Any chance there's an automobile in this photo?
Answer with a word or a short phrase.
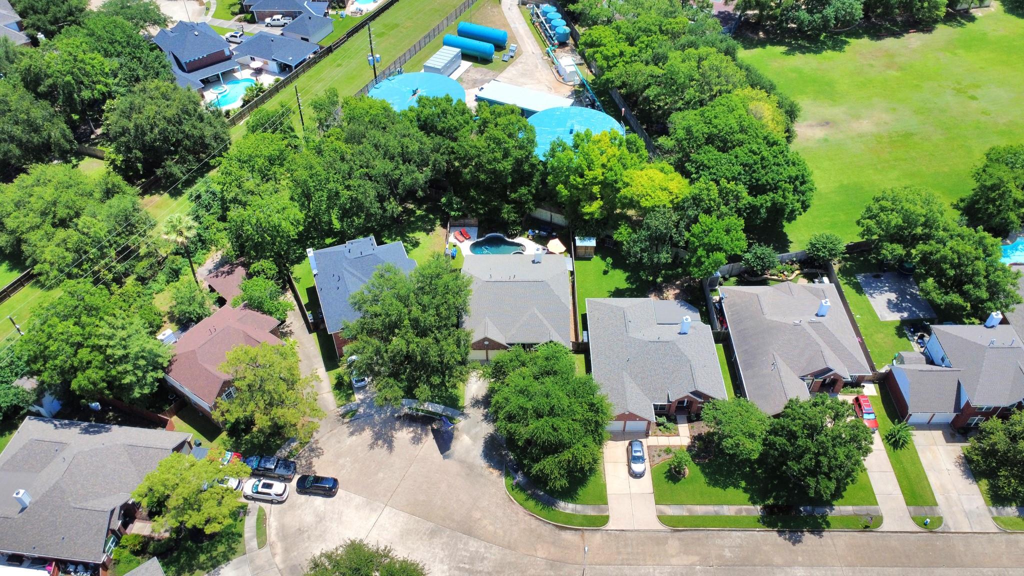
Yes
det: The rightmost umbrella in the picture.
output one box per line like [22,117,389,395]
[546,239,566,255]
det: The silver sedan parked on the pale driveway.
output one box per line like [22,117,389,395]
[626,438,649,476]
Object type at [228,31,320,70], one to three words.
house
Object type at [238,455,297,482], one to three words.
truck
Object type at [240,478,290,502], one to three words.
car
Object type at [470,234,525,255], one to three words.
swimming pool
